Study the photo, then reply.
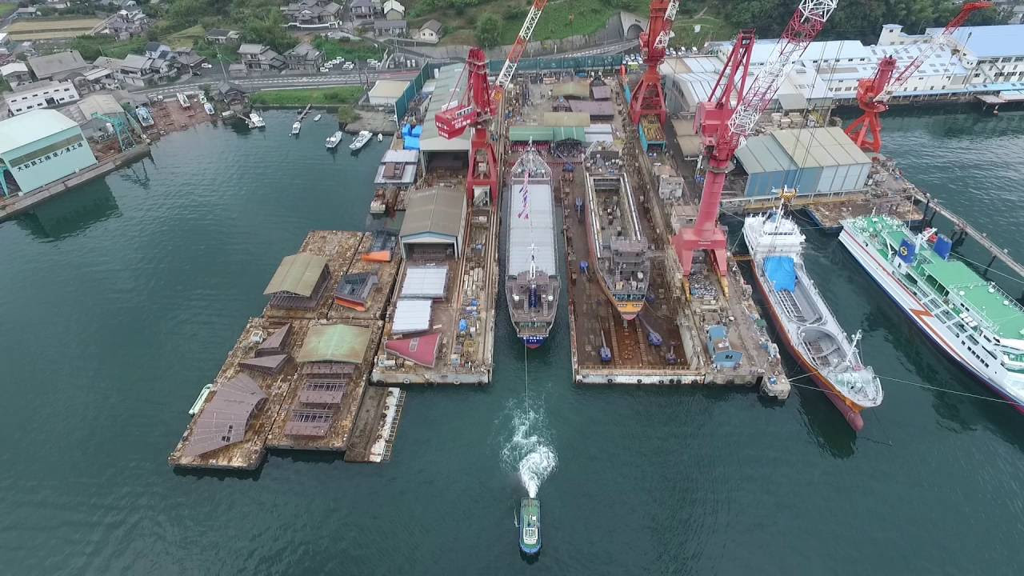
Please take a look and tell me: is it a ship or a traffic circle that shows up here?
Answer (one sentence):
I can see a ship in this picture.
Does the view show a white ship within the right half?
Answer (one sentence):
Yes, within the right half there is a white ship.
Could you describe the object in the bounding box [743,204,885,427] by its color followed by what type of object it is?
white ship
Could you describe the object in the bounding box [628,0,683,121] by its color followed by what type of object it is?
red crane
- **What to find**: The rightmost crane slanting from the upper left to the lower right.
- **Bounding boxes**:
[78,88,140,148]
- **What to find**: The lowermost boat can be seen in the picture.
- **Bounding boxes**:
[517,495,542,552]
